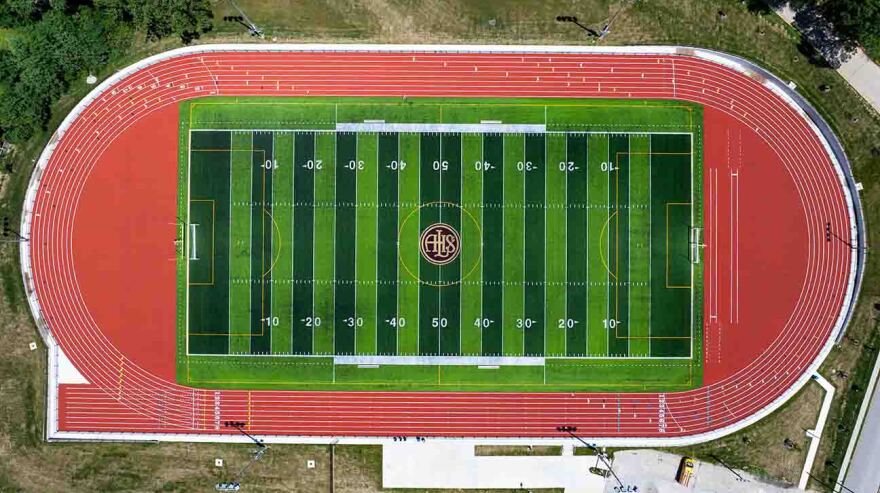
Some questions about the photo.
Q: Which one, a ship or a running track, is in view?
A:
running track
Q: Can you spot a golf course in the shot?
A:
No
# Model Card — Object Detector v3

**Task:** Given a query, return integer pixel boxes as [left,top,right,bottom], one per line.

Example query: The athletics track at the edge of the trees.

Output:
[29,53,853,436]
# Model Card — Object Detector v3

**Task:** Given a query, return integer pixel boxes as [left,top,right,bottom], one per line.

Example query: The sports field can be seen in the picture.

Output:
[175,96,704,393]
